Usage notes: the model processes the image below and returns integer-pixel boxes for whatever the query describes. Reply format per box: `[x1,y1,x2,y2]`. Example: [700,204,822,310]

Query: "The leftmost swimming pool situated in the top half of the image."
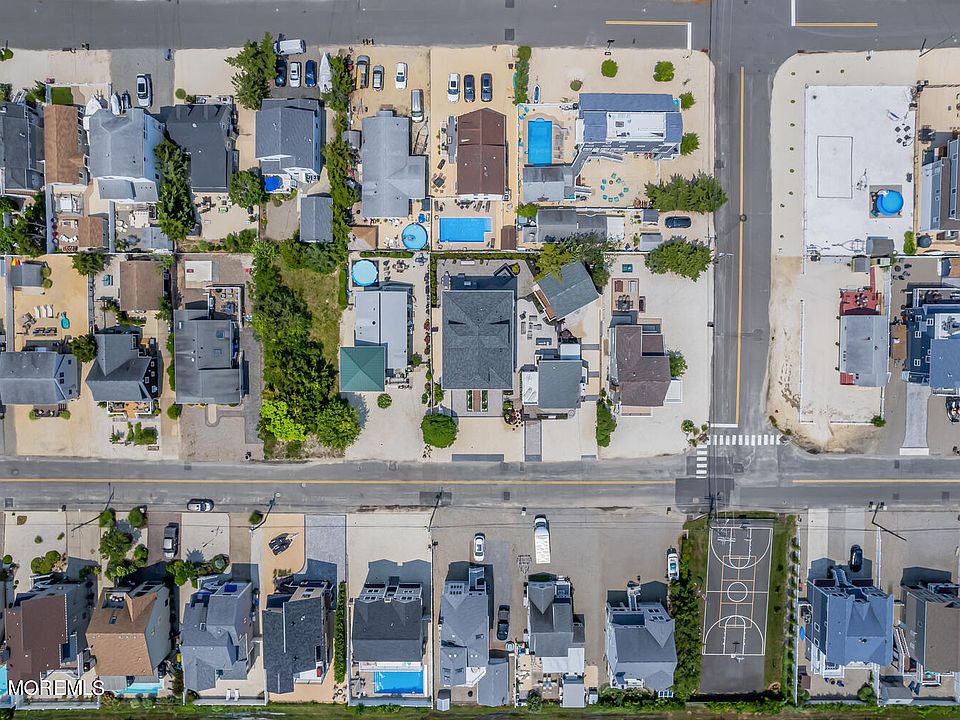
[263,176,281,194]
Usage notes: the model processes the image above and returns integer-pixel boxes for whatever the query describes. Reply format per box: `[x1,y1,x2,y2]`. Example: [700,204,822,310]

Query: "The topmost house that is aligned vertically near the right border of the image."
[917,135,960,239]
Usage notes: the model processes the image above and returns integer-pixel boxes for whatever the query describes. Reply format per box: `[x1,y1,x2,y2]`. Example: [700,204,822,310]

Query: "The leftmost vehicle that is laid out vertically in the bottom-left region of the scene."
[162,524,177,557]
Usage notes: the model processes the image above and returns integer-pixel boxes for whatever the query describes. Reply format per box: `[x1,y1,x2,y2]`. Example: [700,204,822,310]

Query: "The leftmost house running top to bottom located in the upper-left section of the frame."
[0,101,44,193]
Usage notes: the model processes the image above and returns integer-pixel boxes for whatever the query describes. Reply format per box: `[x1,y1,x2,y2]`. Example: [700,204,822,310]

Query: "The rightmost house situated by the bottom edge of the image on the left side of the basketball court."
[605,579,682,700]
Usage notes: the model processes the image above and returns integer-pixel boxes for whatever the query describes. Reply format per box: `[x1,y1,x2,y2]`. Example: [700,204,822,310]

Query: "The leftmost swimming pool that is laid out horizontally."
[109,682,164,694]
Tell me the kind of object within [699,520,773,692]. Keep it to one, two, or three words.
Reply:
basketball court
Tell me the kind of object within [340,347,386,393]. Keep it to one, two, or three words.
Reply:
house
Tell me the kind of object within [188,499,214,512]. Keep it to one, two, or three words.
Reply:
vehicle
